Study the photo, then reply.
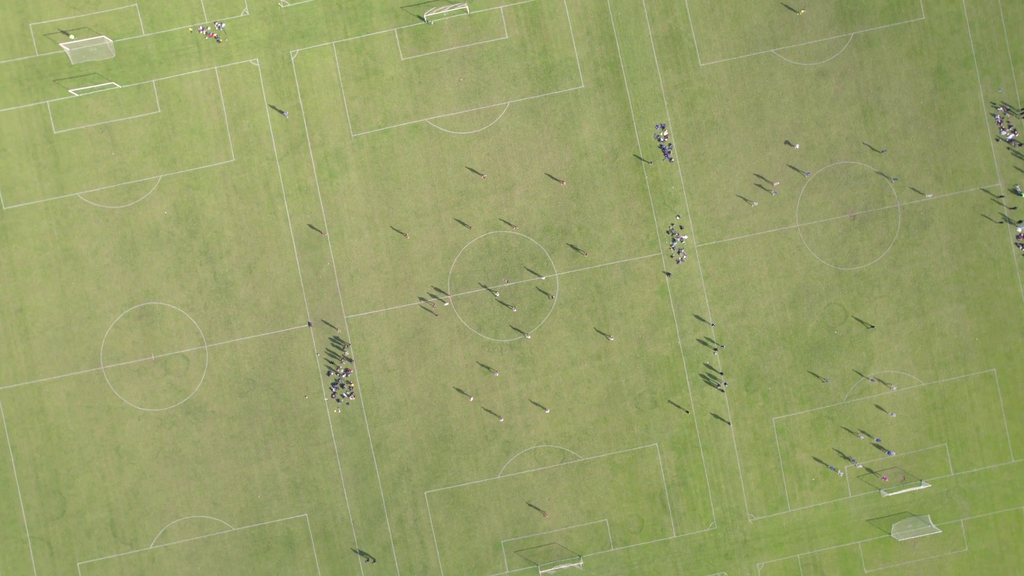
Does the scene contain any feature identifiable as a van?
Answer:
No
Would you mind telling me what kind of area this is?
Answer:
sports ground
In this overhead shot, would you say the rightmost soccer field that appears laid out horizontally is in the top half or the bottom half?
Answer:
bottom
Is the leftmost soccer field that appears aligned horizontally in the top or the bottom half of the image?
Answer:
top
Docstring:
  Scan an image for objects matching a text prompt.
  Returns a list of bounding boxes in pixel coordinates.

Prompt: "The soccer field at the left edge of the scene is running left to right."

[0,0,249,63]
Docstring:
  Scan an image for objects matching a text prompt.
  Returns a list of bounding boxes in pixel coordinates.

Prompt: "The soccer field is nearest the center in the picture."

[290,0,717,576]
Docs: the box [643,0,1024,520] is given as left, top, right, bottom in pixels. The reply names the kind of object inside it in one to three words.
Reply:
soccer field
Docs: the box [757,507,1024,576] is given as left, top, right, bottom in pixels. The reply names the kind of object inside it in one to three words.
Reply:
soccer field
